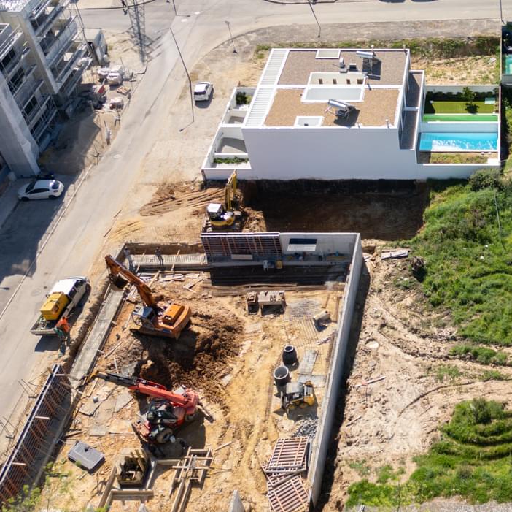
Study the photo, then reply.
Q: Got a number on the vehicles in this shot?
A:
7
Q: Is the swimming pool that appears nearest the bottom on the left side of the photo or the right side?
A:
right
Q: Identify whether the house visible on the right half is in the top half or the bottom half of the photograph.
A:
top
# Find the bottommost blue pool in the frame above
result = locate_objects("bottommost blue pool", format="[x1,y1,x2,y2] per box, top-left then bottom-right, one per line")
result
[423,133,499,154]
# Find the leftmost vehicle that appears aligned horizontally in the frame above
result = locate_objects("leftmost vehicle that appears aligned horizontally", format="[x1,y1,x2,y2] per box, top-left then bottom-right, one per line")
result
[15,176,66,201]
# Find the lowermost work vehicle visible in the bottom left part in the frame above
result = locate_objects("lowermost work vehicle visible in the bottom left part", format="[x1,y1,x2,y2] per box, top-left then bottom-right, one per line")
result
[68,377,205,460]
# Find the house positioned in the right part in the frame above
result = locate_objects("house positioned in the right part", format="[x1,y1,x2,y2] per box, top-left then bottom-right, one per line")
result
[242,47,429,181]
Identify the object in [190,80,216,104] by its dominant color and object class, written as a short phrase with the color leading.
white car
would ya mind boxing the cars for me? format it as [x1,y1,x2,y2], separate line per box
[190,80,216,104]
[15,176,66,201]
